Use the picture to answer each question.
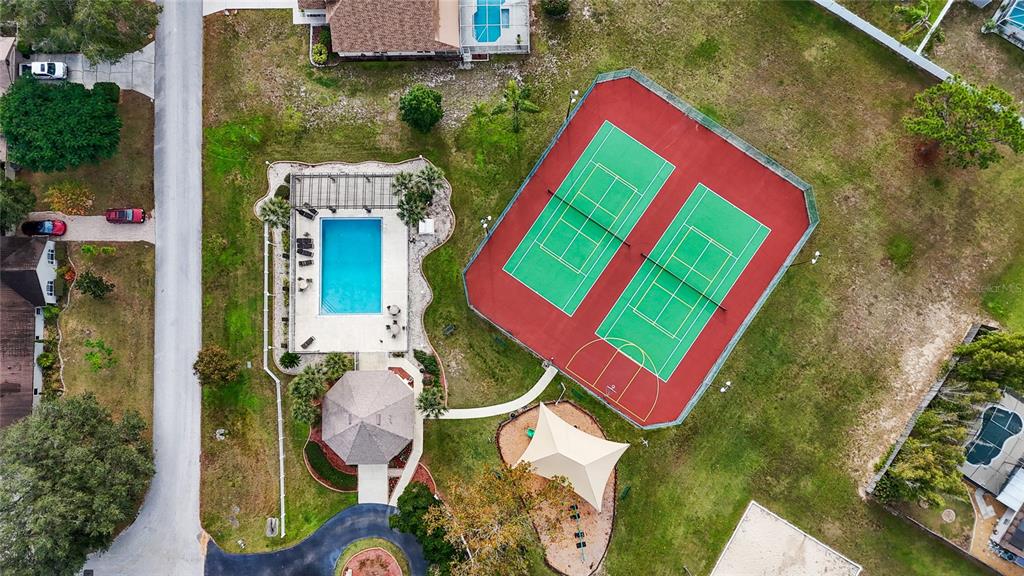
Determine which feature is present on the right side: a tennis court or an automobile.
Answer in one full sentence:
Looking on the right side, you will find a tennis court.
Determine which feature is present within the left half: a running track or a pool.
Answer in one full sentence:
What appears within the left half is a pool.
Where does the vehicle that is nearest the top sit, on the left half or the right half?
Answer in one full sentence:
You can find the vehicle that is nearest the top on the left side of the picture.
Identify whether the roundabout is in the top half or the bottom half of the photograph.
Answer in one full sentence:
The roundabout is in the bottom half of the image.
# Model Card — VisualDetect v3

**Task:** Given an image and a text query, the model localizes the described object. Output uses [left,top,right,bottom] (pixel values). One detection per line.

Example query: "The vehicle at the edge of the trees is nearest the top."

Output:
[19,61,68,81]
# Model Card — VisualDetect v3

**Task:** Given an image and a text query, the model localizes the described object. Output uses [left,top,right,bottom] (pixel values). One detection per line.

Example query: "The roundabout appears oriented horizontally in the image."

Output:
[205,503,436,576]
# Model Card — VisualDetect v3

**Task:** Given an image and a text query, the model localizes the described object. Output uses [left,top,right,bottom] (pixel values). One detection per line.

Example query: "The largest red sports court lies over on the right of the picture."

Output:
[464,75,810,427]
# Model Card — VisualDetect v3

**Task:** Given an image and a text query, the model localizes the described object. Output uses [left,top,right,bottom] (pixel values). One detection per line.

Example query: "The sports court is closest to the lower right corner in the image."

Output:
[707,501,864,576]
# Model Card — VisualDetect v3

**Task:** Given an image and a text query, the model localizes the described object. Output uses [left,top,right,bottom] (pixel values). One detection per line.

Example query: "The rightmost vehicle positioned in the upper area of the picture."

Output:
[104,208,144,226]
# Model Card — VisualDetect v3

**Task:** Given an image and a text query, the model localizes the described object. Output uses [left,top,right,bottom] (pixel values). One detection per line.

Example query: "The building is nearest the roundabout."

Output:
[322,371,415,465]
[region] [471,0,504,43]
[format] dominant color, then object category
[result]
blue swimming pool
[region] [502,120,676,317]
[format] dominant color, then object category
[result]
green tennis court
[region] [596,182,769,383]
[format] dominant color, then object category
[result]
green tennis court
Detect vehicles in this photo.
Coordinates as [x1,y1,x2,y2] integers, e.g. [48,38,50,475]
[19,61,68,81]
[19,219,63,237]
[104,208,144,226]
